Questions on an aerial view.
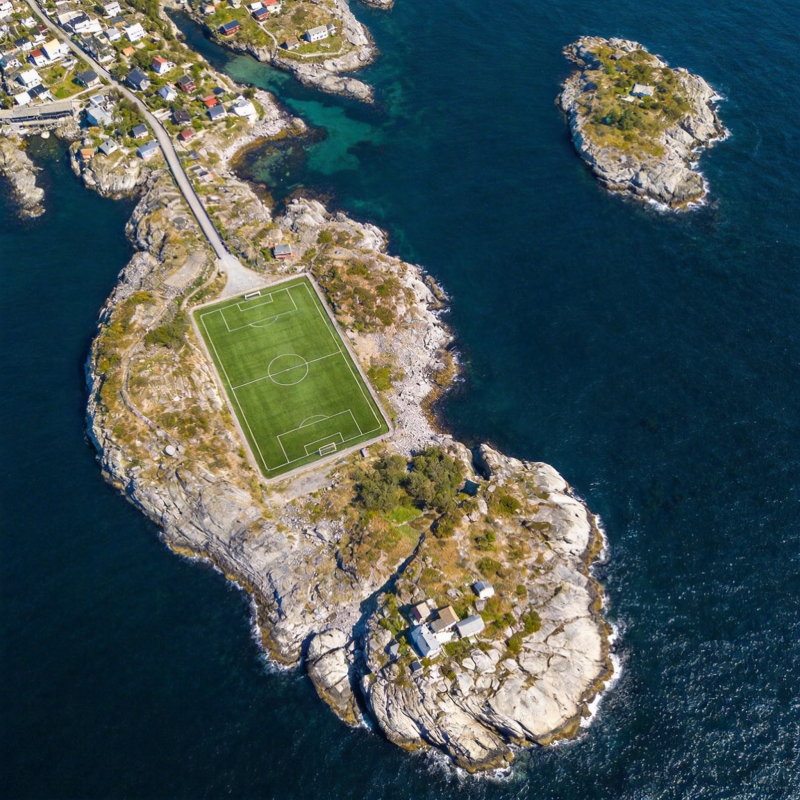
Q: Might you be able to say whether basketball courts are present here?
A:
No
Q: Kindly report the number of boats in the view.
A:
0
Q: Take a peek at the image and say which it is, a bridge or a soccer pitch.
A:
soccer pitch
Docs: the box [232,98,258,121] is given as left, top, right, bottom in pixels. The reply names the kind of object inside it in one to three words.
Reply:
house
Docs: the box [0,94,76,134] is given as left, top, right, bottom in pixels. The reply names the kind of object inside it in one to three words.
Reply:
building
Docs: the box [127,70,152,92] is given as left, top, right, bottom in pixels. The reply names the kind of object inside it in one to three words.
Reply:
house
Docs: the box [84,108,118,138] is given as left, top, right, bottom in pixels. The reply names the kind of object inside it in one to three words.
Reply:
building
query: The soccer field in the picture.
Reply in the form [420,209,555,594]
[191,273,395,484]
